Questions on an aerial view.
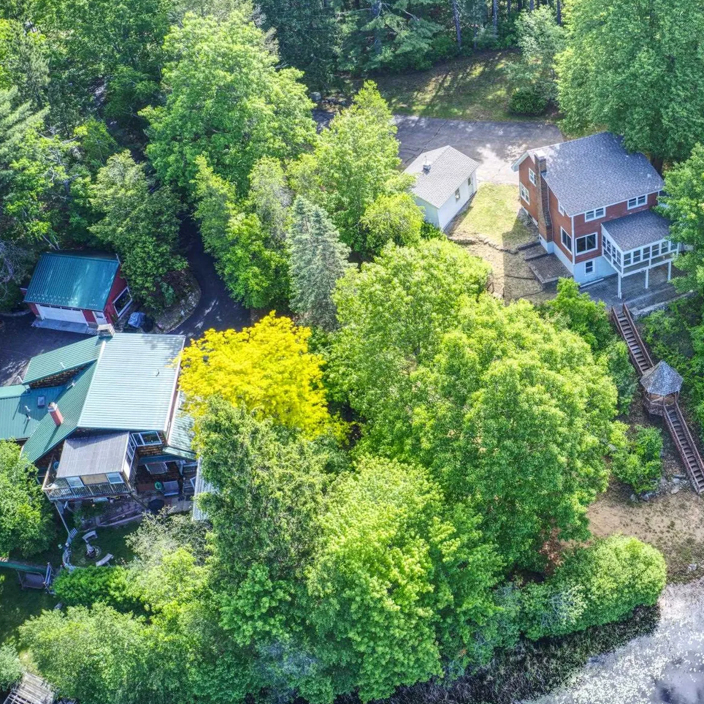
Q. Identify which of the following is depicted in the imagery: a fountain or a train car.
fountain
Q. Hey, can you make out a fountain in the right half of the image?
No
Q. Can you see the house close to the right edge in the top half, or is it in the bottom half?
top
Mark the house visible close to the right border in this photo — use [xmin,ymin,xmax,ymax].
[512,127,682,298]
